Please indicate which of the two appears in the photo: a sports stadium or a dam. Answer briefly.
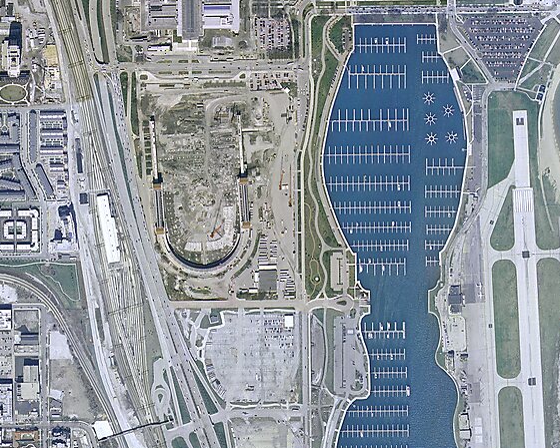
sports stadium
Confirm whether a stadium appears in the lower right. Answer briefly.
No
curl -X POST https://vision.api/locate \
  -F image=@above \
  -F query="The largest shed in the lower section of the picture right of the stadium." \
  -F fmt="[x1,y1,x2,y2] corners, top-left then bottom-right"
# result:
[259,270,276,291]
